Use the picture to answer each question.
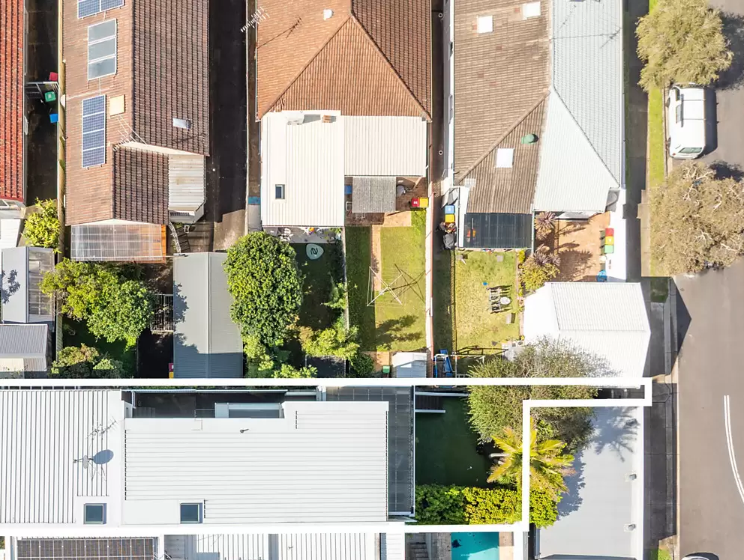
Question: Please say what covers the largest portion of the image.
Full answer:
Most of the picture is covered by buildings.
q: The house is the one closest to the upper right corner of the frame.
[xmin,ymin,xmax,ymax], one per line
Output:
[444,0,622,247]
